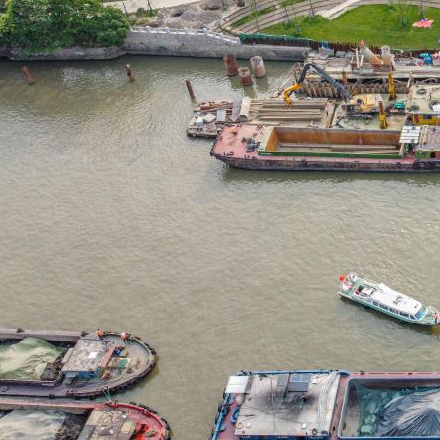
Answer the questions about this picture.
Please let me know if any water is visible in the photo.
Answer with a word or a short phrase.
Yes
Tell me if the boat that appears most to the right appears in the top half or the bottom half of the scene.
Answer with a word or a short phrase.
bottom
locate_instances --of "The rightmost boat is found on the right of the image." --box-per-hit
[337,272,440,326]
